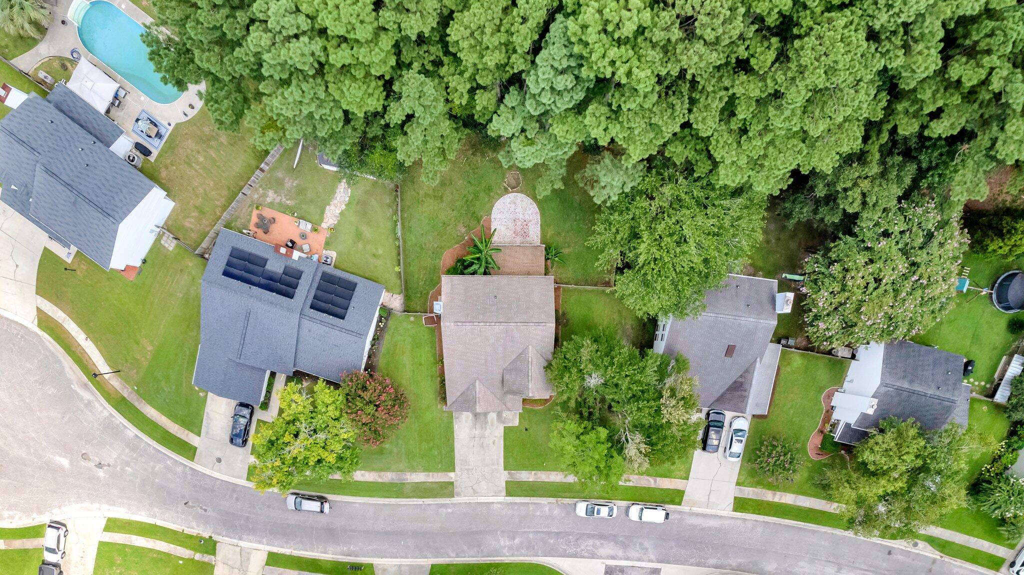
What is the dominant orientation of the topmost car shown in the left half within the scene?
vertically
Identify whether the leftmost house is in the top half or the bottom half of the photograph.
top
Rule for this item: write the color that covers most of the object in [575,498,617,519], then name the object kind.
white car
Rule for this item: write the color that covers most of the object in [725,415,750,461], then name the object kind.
white car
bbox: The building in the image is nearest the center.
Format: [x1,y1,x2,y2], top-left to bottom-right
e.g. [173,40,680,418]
[433,244,555,412]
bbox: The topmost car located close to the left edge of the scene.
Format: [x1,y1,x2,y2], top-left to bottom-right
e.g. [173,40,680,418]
[43,519,70,561]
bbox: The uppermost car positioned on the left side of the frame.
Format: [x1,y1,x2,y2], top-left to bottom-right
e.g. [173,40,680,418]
[231,402,254,447]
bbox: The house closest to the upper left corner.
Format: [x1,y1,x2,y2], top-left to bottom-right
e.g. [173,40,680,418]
[0,82,177,280]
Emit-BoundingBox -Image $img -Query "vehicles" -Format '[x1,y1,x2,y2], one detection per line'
[703,409,728,454]
[231,402,254,447]
[285,492,331,514]
[575,498,617,519]
[725,415,750,461]
[43,519,70,561]
[40,563,65,575]
[627,502,671,525]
